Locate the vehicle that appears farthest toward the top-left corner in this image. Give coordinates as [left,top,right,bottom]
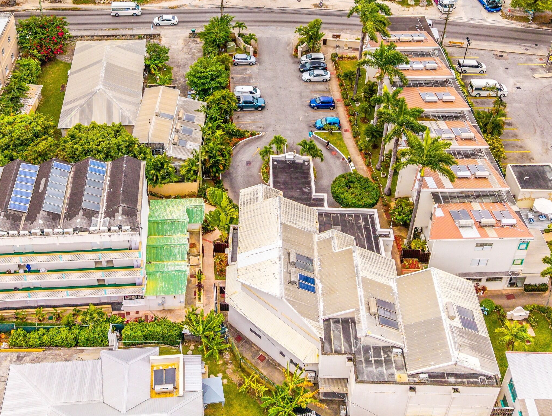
[111,1,141,16]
